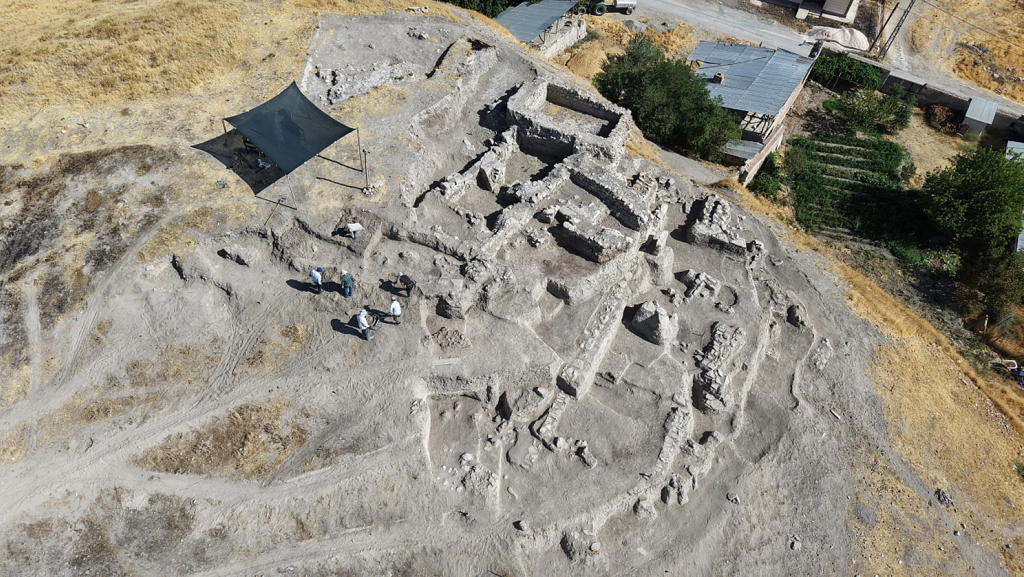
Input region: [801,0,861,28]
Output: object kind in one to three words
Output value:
house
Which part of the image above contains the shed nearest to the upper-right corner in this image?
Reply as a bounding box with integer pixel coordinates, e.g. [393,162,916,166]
[955,98,998,139]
